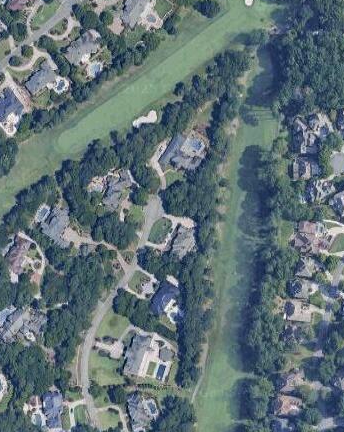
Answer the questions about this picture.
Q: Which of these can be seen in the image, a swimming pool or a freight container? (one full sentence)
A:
Looking from above, you can make out a swimming pool.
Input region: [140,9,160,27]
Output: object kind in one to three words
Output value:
swimming pool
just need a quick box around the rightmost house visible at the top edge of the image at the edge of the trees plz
[121,0,150,30]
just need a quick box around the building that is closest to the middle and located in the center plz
[169,223,198,261]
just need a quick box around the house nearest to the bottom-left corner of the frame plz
[41,389,64,428]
